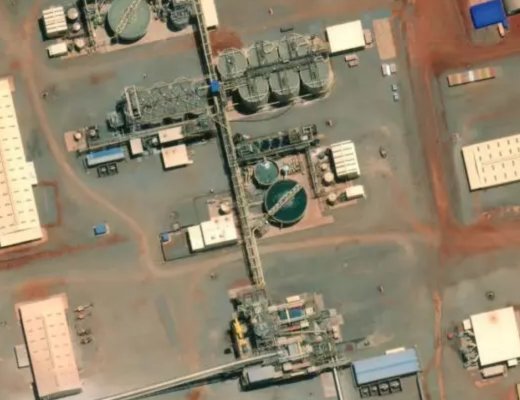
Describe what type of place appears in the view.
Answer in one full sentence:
This image shows an industrial area.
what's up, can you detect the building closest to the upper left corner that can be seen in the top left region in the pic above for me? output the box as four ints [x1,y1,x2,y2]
[43,7,67,38]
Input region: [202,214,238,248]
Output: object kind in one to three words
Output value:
building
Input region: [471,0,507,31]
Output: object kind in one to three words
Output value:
shed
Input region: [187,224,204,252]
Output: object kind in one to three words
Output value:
building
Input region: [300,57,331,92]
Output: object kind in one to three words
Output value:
storage tank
